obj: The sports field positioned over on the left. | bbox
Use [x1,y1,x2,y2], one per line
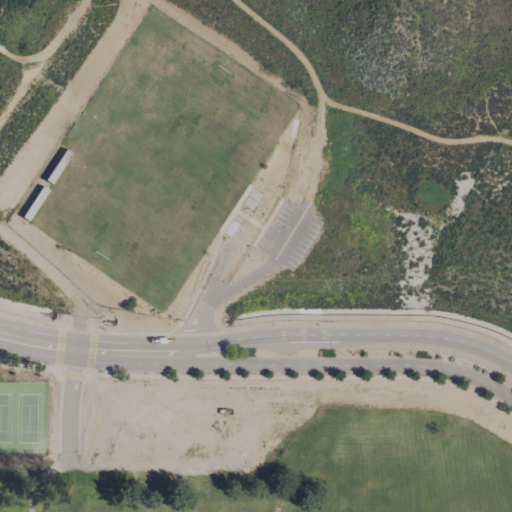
[32,7,300,312]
